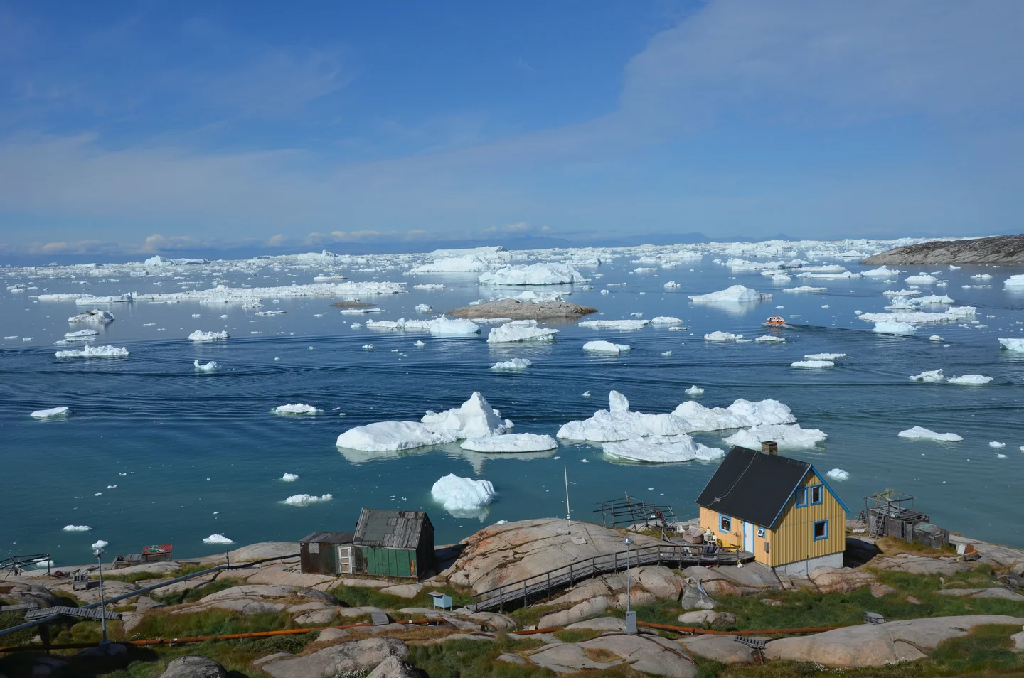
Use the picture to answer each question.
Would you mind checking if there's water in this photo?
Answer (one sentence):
Yes, water shows up in the scene.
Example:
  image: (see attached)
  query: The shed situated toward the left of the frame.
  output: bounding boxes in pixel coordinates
[297,506,434,580]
